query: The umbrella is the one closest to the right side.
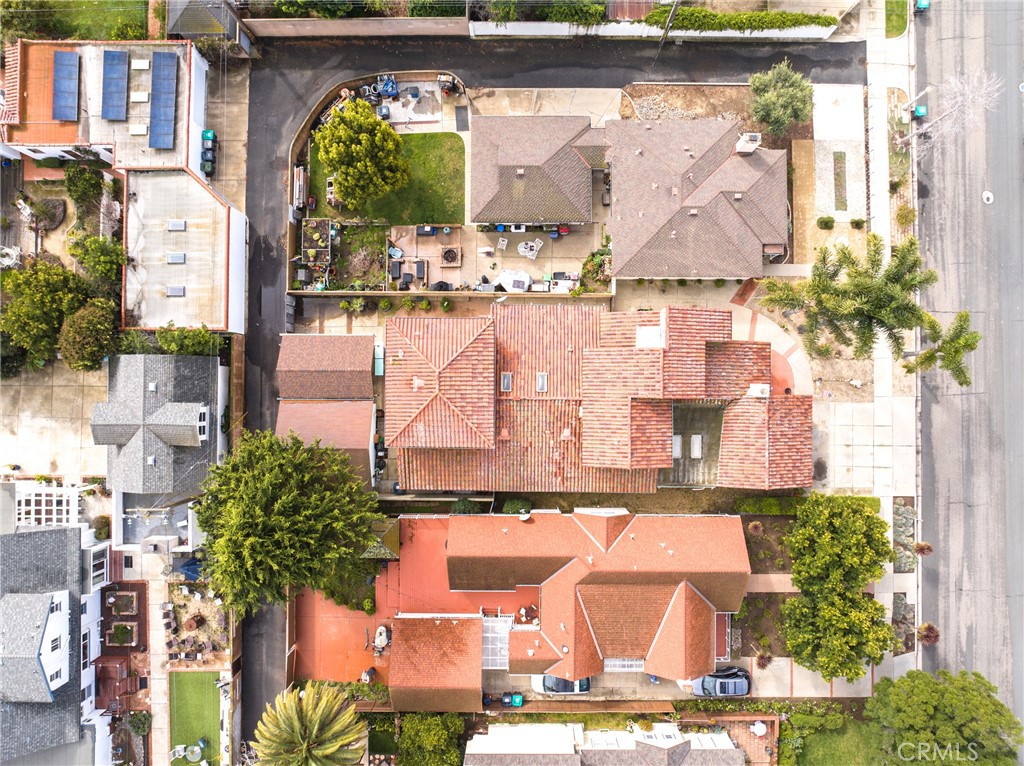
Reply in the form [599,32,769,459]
[752,719,765,735]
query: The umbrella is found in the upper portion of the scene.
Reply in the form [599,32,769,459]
[497,263,527,297]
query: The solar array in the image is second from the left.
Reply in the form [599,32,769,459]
[102,49,128,121]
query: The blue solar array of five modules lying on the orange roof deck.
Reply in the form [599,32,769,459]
[53,50,78,121]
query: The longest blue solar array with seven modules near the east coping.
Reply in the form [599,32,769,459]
[149,51,177,149]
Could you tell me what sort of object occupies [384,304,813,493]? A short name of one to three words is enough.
house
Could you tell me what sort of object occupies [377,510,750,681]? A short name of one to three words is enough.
house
